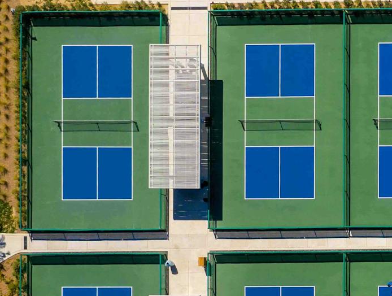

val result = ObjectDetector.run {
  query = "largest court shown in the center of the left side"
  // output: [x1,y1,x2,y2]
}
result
[27,13,168,231]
